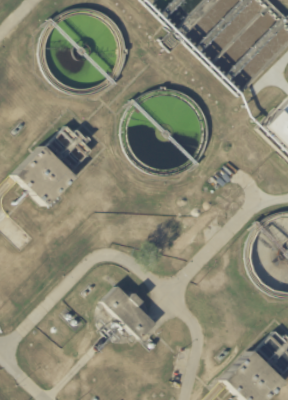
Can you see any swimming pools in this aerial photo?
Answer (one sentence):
No, this view has no swimming pool in it.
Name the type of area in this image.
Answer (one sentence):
The picture captures an industrial area.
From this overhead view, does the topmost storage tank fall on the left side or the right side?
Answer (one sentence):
You can find the topmost storage tank on the left side of the picture.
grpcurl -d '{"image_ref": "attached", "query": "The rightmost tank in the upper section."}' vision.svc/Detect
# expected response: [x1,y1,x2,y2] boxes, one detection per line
[119,88,208,175]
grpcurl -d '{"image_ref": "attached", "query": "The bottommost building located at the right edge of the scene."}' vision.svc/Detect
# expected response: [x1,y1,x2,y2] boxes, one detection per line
[219,350,286,400]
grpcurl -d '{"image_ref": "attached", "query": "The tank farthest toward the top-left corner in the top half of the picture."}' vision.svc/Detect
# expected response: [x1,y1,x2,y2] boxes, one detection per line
[37,8,126,95]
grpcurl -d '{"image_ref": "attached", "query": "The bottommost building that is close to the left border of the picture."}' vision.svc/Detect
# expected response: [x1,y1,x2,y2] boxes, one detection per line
[10,146,76,207]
